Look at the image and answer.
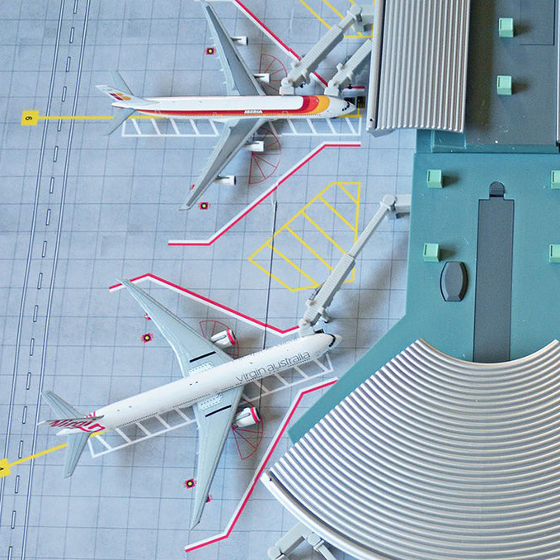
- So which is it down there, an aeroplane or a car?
aeroplane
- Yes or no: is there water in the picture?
No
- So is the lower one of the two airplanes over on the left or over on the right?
left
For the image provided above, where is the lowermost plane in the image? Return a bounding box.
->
[40,279,341,526]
